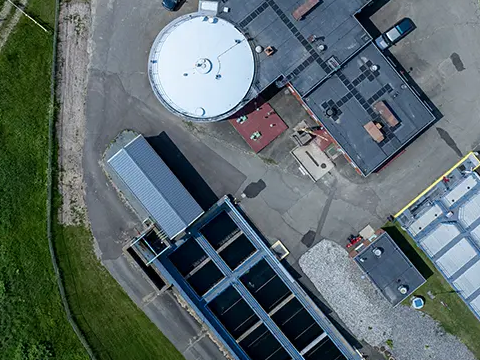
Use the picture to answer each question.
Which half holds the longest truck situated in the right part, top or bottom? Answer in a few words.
top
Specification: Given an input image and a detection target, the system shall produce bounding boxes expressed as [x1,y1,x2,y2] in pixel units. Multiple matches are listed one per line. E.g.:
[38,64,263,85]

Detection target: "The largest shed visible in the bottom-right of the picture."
[351,228,427,306]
